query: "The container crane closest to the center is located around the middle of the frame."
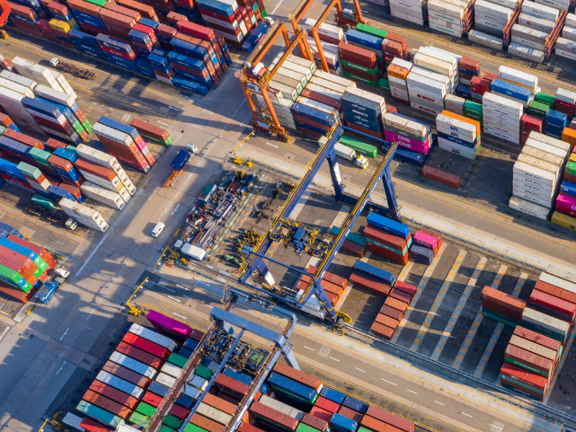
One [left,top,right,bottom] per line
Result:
[229,116,409,323]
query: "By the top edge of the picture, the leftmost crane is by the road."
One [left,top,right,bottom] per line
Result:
[230,15,319,136]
